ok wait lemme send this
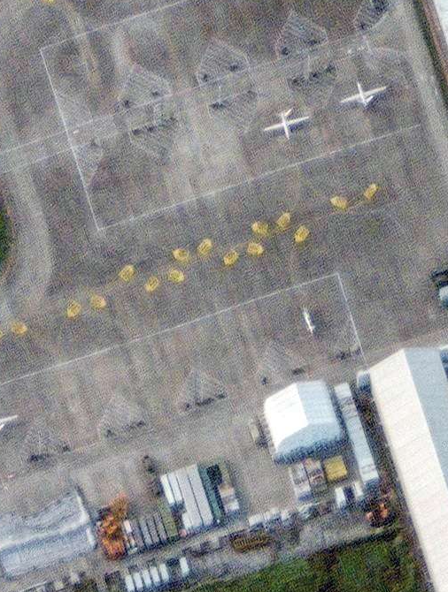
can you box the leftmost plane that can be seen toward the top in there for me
[261,110,308,139]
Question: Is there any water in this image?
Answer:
No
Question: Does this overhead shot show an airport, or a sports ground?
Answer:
airport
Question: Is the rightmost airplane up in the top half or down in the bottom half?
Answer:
top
